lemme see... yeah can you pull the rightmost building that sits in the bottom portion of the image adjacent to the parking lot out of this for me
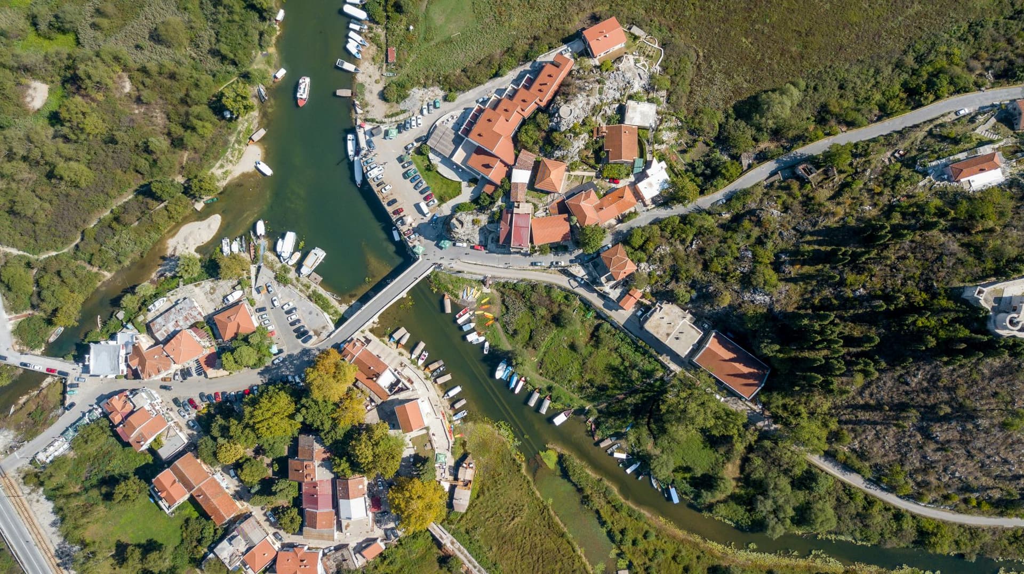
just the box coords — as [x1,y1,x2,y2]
[346,339,405,400]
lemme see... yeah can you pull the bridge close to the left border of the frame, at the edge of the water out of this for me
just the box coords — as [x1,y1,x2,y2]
[17,351,85,385]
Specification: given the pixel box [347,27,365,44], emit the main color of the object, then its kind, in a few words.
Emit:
white boat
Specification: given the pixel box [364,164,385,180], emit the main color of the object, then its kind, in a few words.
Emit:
white camper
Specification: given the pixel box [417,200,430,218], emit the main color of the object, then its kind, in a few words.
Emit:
white vehicle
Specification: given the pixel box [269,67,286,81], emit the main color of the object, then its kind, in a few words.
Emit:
white boat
